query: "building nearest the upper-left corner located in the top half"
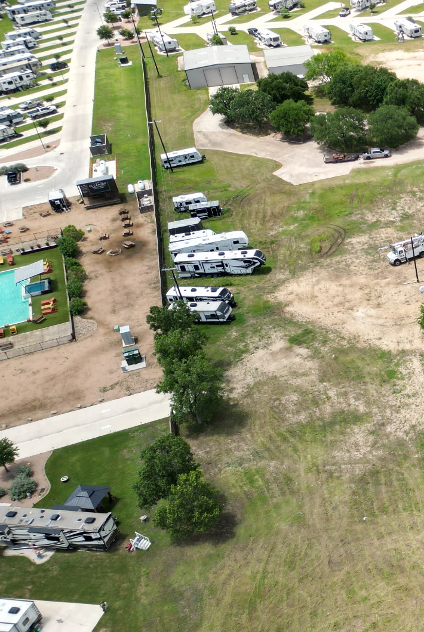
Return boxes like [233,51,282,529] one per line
[127,0,159,16]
